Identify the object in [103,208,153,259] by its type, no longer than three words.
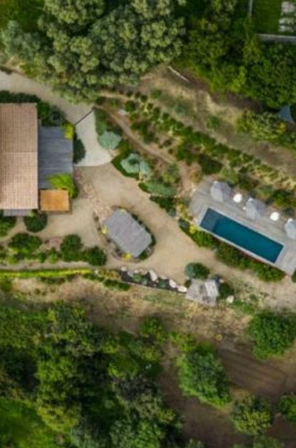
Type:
building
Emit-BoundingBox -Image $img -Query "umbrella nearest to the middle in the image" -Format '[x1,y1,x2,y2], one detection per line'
[209,181,230,202]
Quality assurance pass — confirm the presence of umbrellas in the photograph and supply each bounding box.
[243,198,265,218]
[209,181,230,202]
[281,217,296,238]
